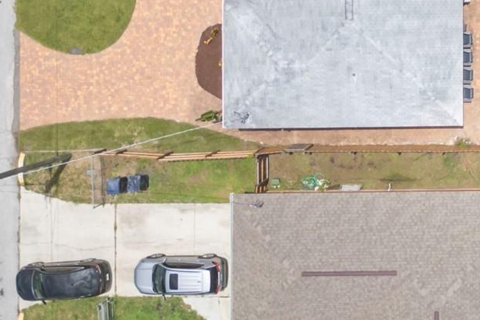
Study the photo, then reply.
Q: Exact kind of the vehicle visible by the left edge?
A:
automobile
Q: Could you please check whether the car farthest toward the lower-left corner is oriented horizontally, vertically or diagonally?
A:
horizontally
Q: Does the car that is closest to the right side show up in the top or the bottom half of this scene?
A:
bottom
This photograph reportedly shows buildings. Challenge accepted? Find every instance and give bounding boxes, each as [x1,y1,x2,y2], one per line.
[222,0,463,128]
[229,189,480,320]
